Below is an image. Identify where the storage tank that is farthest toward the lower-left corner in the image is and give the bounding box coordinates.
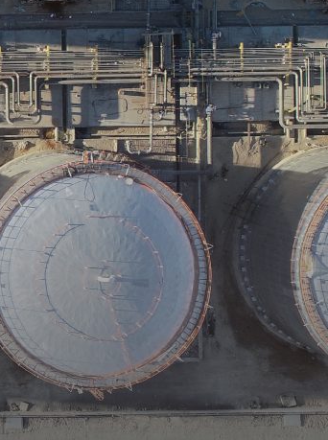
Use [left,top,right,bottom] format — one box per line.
[0,149,209,387]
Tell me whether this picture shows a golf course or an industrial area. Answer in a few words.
industrial area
